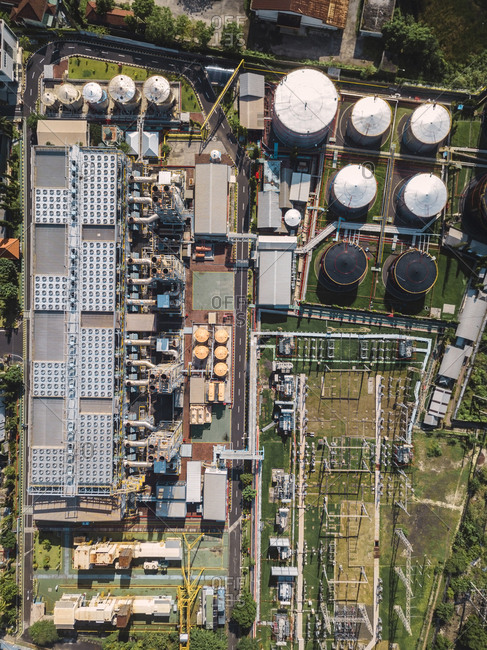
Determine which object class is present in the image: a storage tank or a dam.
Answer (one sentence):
I can see a storage tank in this picture.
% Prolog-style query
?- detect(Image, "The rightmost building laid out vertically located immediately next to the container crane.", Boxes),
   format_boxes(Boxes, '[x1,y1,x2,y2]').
[204,468,227,521]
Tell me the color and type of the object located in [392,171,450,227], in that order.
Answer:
white storage tank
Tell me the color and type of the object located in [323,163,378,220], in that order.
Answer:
white storage tank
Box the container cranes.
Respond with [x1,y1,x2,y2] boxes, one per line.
[178,530,204,650]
